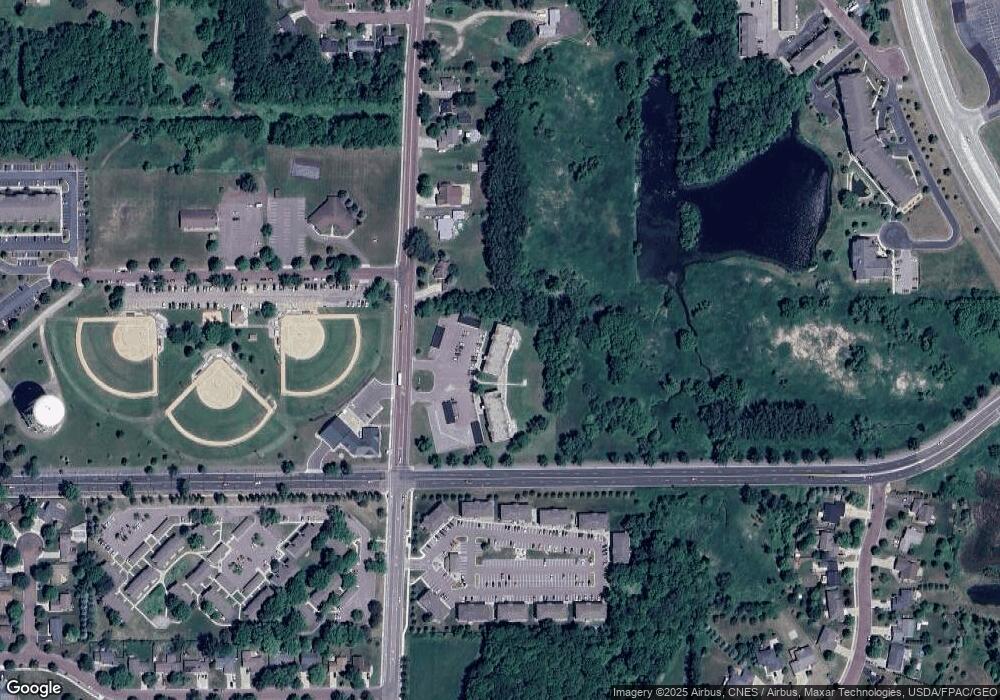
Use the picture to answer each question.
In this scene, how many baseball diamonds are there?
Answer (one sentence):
In total, there are 3 baseball diamonds in the scene.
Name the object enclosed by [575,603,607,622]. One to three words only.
building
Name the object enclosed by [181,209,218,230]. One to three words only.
barn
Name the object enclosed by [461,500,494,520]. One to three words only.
building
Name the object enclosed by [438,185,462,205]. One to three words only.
house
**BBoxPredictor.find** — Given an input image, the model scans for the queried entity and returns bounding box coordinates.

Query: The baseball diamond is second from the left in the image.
[164,355,276,445]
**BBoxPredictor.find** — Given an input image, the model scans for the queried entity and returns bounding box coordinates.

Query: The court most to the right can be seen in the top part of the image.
[291,161,320,179]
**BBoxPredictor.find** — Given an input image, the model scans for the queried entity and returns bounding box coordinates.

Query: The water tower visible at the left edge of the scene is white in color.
[30,394,66,432]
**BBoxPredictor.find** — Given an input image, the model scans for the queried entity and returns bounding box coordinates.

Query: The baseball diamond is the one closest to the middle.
[277,310,360,395]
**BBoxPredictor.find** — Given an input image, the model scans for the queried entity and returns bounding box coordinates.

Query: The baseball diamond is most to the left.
[77,312,161,397]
